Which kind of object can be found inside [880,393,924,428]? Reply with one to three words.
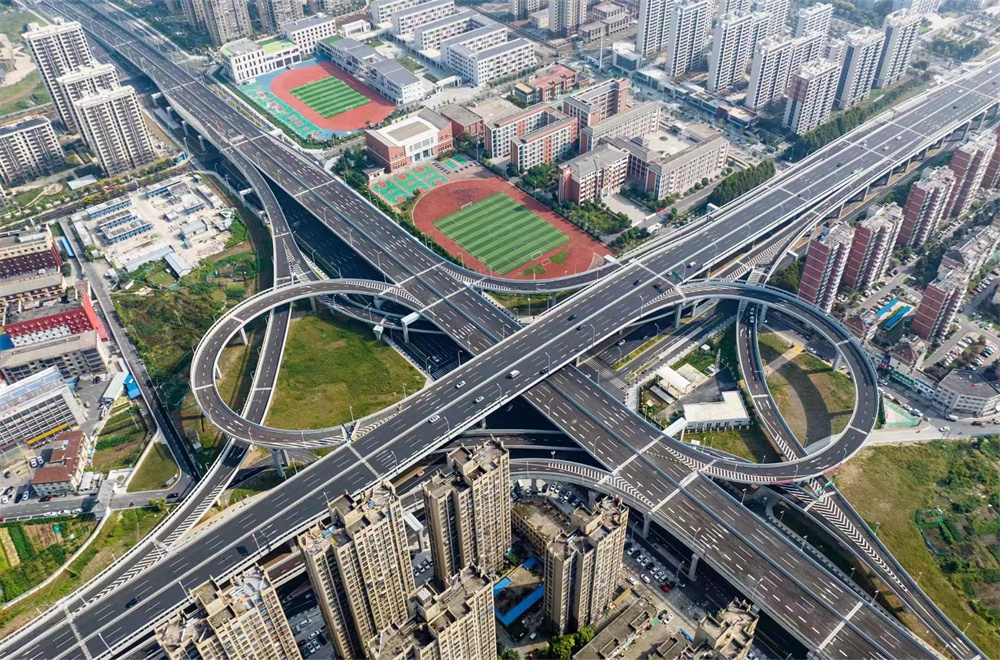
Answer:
sports court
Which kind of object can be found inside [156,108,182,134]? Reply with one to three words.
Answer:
shed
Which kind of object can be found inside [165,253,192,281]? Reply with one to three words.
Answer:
shed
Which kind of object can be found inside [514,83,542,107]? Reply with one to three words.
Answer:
building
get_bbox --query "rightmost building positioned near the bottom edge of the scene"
[668,581,762,660]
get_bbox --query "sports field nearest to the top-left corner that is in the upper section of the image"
[227,48,396,139]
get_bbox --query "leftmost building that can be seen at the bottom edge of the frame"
[147,560,296,660]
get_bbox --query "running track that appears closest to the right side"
[413,178,616,279]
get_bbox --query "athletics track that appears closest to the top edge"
[271,60,396,131]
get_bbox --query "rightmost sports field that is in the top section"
[379,153,617,279]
